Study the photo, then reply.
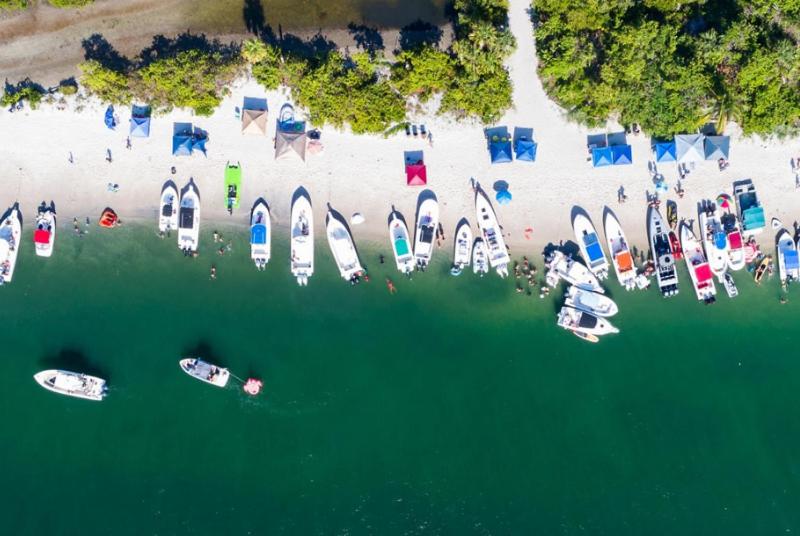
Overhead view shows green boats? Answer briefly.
Yes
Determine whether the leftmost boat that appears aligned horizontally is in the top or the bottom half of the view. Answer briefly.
bottom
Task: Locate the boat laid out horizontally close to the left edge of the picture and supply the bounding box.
[33,371,116,402]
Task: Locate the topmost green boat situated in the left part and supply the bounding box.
[223,163,241,218]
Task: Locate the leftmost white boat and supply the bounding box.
[0,171,24,290]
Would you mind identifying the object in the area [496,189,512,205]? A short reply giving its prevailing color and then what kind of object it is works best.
blue umbrella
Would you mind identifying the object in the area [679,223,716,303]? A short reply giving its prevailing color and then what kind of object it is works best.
white boat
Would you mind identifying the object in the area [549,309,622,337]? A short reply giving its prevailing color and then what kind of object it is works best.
white boat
